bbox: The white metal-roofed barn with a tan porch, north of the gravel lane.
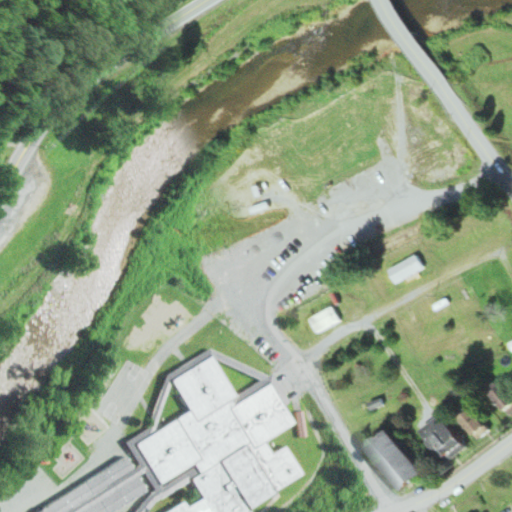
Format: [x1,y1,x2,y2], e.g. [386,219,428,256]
[388,254,425,285]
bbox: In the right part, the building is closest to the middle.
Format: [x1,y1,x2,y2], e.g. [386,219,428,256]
[307,306,342,335]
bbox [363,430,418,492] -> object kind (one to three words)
building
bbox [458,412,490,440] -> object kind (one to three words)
house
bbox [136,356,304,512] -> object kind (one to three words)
building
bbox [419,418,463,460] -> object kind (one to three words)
house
